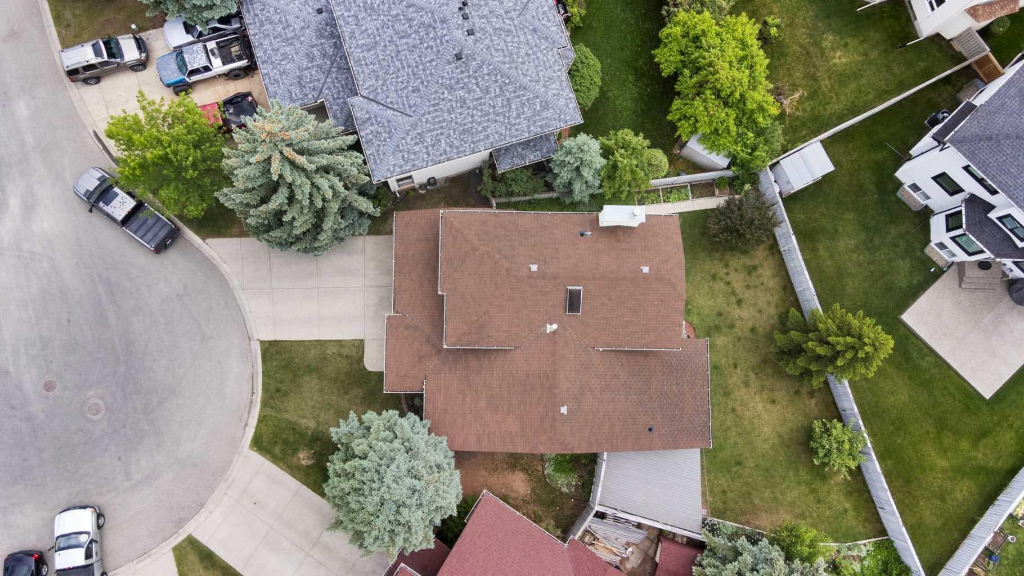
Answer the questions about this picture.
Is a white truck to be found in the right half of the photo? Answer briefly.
No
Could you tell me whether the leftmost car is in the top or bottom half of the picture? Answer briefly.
bottom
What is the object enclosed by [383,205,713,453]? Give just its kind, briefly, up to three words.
house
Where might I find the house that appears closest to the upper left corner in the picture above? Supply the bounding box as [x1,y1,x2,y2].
[240,0,584,206]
